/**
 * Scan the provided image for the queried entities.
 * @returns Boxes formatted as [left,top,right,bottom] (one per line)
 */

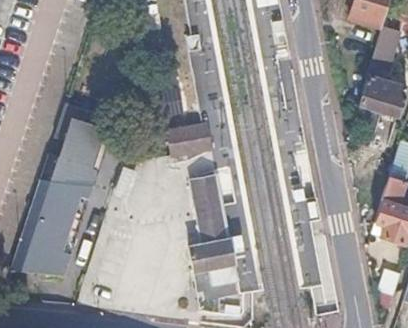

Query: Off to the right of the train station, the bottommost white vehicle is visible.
[352,29,372,42]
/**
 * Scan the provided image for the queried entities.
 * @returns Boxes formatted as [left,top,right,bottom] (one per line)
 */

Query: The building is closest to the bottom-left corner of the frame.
[7,180,96,278]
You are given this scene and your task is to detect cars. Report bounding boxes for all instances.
[287,0,298,7]
[0,66,18,80]
[0,92,8,103]
[75,0,95,5]
[0,106,6,116]
[4,28,28,42]
[9,17,30,30]
[352,29,372,42]
[2,41,21,54]
[0,79,13,91]
[15,0,38,7]
[93,286,114,300]
[87,214,102,238]
[13,5,34,18]
[0,54,20,68]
